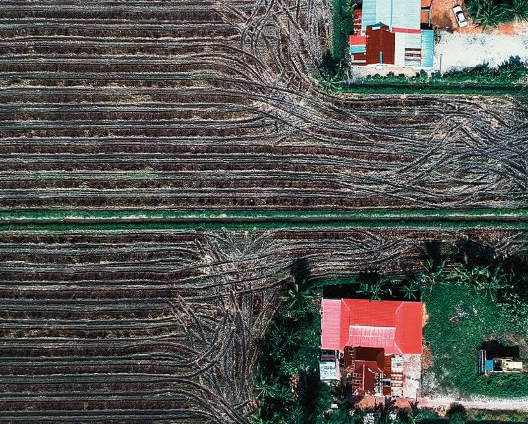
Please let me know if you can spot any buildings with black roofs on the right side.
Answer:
No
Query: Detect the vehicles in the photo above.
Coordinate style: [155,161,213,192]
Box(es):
[453,5,467,27]
[476,349,522,376]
